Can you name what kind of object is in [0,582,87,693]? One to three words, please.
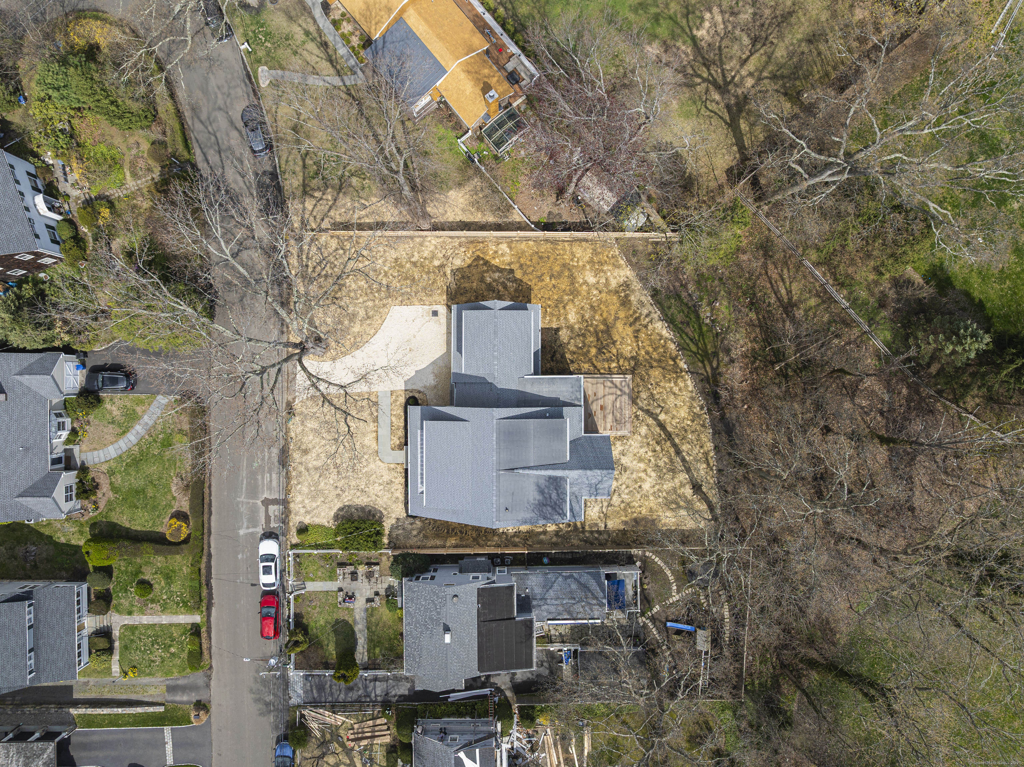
house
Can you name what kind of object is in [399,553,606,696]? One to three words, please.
house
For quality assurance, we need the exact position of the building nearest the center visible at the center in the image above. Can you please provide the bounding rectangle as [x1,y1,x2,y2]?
[404,300,614,528]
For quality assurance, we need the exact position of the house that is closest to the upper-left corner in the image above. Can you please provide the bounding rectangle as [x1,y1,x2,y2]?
[0,146,61,274]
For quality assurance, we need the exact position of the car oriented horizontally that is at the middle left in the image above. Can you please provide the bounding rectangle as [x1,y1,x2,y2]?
[83,367,135,391]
